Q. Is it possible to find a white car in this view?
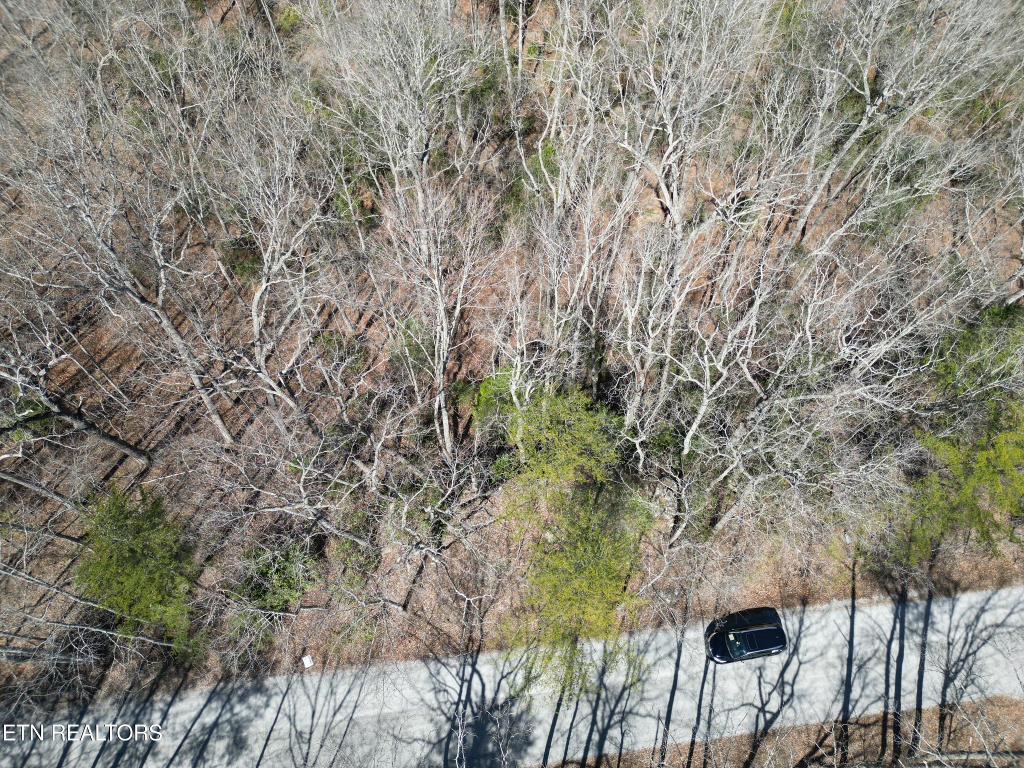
No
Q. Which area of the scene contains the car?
bottom right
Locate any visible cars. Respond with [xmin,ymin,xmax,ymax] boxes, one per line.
[706,619,790,662]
